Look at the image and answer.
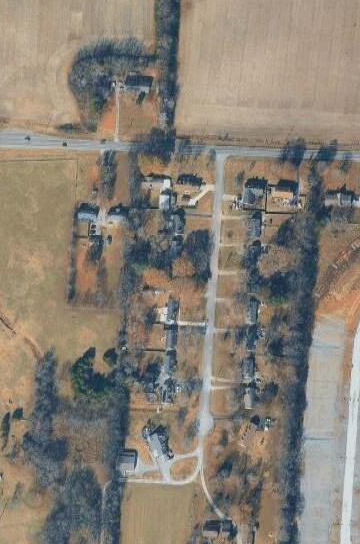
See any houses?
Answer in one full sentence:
Yes, the image includes a house.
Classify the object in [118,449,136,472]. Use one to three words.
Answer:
barn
